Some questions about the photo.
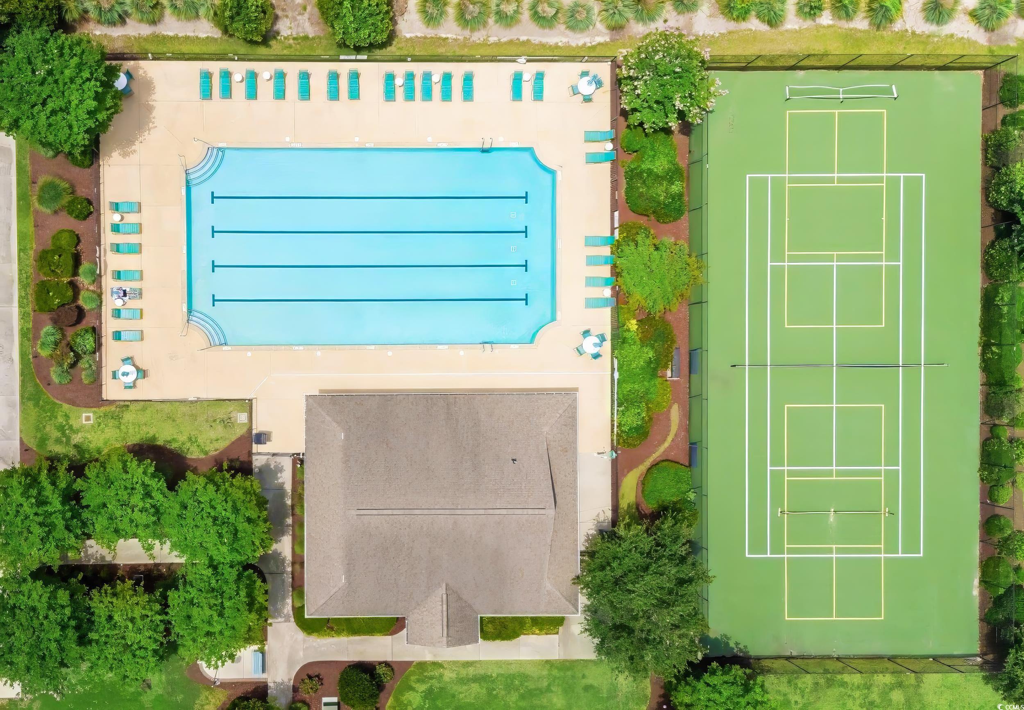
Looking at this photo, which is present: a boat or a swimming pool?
swimming pool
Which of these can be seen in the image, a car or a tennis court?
tennis court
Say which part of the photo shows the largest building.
bottom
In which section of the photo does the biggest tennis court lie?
right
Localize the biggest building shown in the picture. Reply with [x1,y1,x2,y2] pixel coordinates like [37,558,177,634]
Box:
[304,392,580,648]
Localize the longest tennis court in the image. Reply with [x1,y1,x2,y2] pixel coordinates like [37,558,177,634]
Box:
[689,70,982,658]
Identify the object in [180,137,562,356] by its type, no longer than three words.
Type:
swimming pool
